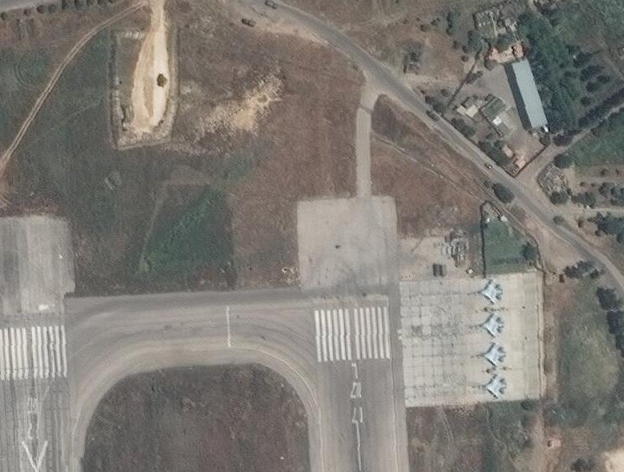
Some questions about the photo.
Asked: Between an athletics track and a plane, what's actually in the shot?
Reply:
plane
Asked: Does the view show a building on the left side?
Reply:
No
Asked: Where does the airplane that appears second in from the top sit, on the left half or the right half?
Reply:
right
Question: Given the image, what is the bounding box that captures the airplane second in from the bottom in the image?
[473,343,506,366]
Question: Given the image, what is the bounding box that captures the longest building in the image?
[513,60,547,128]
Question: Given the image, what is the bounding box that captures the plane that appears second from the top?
[472,315,504,337]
